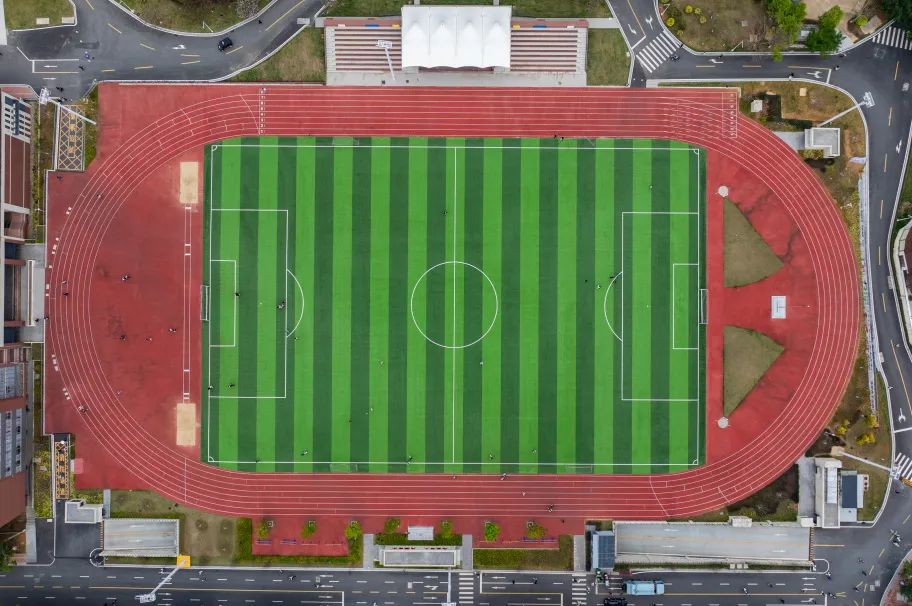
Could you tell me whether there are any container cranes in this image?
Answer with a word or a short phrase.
No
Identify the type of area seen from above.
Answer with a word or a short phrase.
sports ground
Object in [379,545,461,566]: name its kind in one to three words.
building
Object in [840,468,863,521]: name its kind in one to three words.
shed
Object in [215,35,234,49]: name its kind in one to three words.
car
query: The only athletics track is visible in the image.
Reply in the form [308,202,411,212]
[45,84,862,556]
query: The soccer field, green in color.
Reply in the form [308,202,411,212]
[202,135,707,475]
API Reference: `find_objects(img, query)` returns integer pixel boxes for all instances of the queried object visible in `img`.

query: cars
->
[605,598,628,606]
[215,35,234,49]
